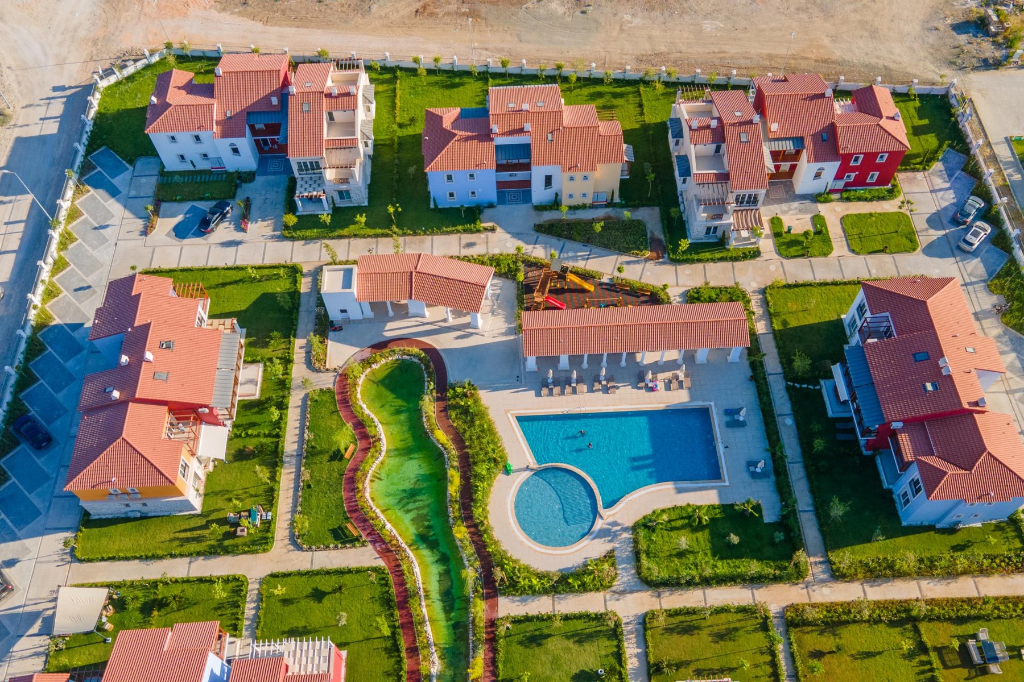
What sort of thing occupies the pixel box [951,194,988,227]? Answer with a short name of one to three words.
car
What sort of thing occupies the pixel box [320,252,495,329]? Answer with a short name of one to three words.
building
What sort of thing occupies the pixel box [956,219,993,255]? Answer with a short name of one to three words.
car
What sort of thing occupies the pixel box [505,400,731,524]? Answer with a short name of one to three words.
swimming pool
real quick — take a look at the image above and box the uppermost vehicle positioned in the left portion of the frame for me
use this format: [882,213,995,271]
[194,198,236,234]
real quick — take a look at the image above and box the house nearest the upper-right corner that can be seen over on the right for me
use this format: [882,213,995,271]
[659,70,913,242]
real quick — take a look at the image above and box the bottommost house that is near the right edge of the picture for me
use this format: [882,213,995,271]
[817,276,1024,529]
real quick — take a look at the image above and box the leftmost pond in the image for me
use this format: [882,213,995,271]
[360,360,471,682]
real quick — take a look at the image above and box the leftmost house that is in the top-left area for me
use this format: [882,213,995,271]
[144,54,385,215]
